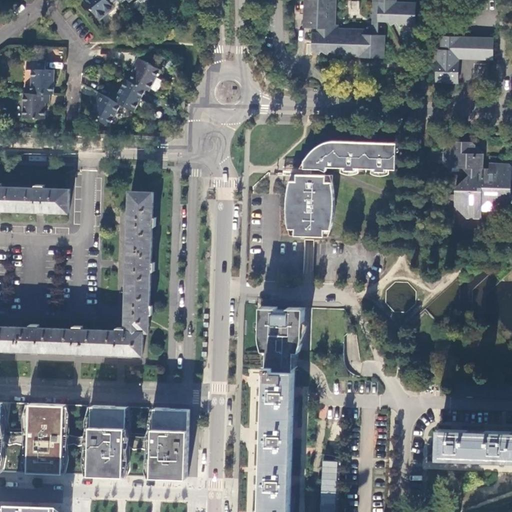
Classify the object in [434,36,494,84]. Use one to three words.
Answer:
house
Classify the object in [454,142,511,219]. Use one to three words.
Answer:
house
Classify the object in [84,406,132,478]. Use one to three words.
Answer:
building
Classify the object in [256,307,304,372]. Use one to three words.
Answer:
building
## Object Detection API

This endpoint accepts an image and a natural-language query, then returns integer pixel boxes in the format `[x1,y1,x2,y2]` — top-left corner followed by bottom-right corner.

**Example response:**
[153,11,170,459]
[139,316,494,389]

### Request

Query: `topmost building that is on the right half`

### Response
[303,0,417,58]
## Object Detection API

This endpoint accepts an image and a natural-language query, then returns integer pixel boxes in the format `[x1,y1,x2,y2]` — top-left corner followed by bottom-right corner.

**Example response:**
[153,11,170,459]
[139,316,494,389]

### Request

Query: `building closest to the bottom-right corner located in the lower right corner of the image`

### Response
[433,426,512,466]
